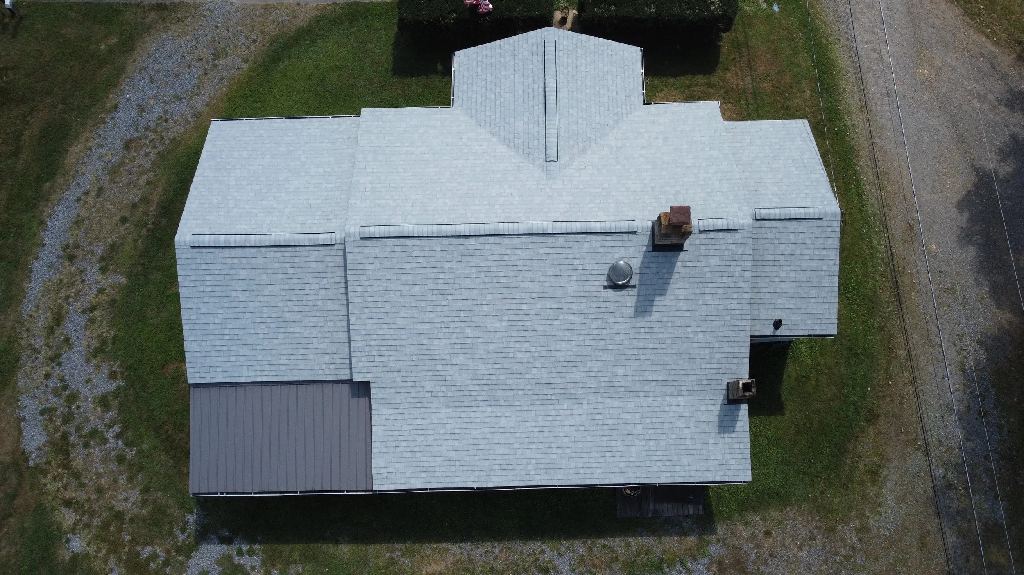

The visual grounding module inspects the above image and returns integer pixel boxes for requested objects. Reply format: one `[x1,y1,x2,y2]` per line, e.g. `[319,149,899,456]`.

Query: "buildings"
[175,27,851,499]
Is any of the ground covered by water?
No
